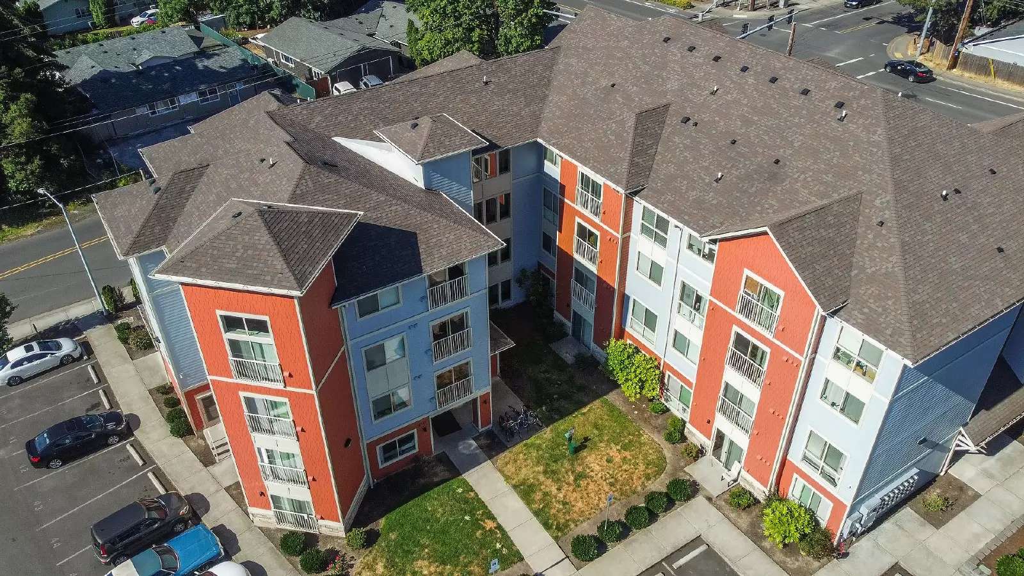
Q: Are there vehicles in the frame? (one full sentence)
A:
Yes, a vehicle appears in the view.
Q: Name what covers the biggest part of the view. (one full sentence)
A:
The largest share of the image is taken up by buildings.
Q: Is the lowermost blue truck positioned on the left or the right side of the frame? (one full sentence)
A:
The lowermost blue truck is on the left side of the image.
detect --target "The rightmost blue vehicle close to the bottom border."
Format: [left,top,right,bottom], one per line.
[111,529,225,576]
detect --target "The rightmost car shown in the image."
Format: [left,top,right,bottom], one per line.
[888,61,927,78]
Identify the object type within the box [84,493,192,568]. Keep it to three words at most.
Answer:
car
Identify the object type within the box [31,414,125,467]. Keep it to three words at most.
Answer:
car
